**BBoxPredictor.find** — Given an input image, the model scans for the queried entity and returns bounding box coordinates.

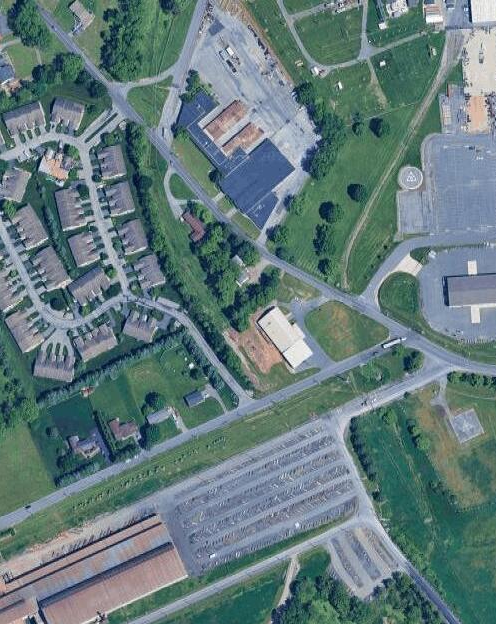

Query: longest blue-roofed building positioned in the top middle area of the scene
[177,91,296,230]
